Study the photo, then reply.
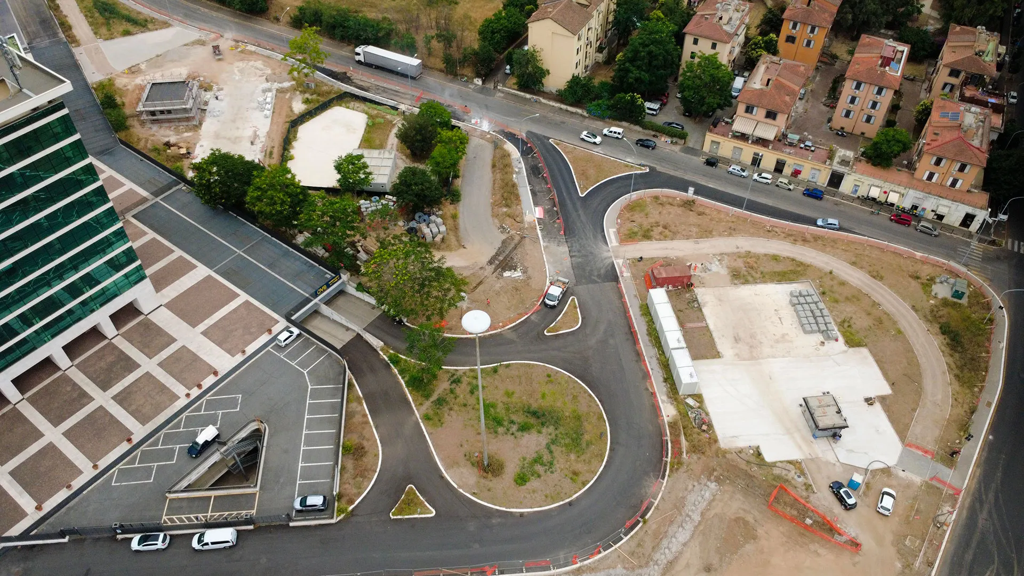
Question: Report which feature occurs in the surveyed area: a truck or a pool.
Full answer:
It is a truck that can be seen here.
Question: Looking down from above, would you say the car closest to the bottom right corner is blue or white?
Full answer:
From above, the car closest to the bottom right corner appears white.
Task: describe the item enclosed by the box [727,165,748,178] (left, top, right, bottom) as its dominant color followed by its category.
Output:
gray vehicle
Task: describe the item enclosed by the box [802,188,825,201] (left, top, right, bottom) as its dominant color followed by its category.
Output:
blue vehicle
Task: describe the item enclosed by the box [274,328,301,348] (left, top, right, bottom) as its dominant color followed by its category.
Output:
white car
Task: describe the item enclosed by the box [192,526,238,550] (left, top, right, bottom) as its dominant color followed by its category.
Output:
white vehicle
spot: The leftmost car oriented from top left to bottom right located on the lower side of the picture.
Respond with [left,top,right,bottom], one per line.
[826,481,862,513]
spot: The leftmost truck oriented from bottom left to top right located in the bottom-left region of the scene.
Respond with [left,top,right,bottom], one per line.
[185,421,223,457]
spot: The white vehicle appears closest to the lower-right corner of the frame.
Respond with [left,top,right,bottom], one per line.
[875,487,897,519]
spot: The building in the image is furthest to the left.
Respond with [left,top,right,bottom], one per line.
[0,37,162,405]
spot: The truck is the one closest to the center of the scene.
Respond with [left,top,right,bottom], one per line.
[546,276,568,304]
